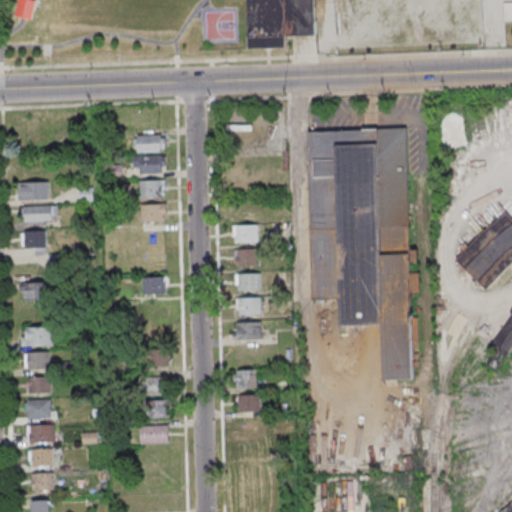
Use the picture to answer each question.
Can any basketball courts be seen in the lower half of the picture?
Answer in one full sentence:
No, looking in the lower half of the picture, there is no basketball court.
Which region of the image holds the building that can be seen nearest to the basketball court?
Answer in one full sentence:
The building that can be seen nearest to the basketball court is located in the top region of the scene.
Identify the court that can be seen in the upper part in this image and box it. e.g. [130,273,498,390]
[203,8,238,43]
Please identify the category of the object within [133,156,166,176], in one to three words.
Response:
house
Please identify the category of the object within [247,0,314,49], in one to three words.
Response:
building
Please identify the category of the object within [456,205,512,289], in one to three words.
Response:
shed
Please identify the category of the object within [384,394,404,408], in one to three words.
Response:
vehicle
